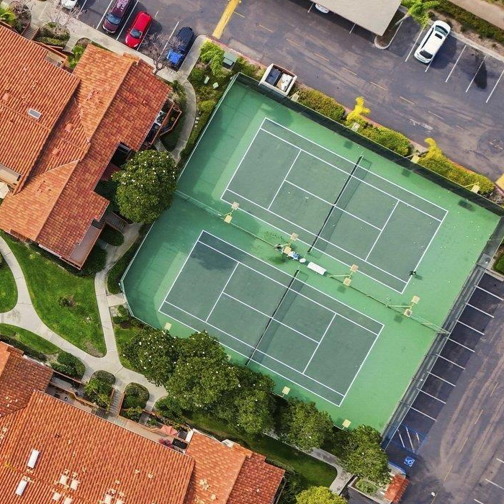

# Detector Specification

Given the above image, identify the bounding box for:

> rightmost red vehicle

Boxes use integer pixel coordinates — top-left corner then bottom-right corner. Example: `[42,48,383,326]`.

[123,10,154,51]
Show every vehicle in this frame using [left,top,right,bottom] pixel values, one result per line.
[58,0,79,12]
[123,10,154,51]
[413,21,449,66]
[100,0,134,36]
[312,4,328,17]
[165,24,199,72]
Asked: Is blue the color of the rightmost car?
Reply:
No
